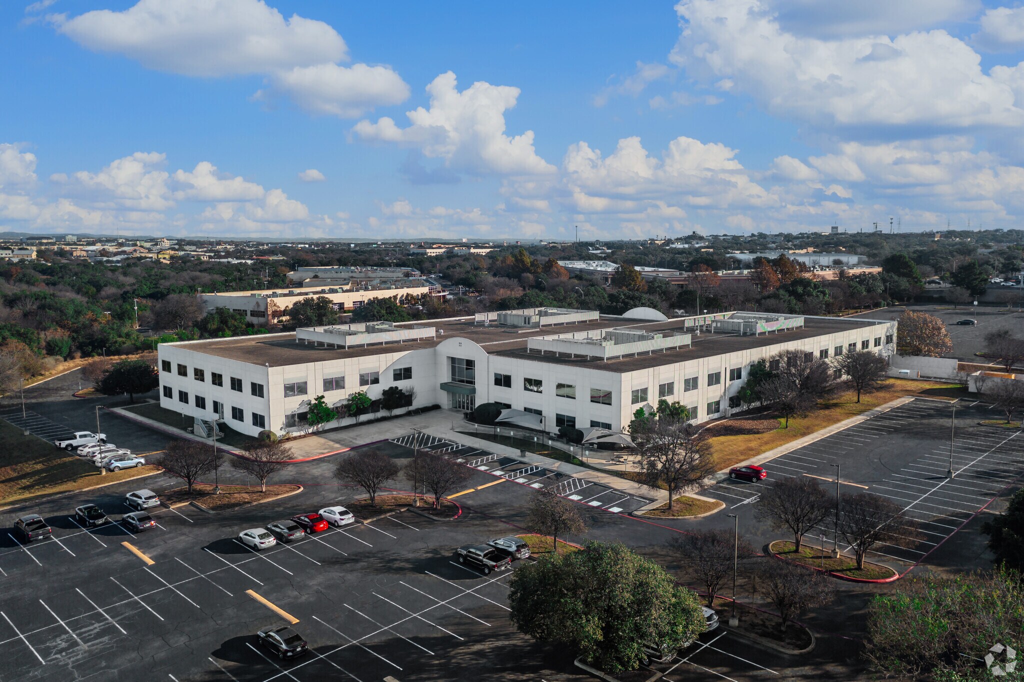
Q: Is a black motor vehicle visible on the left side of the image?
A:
Yes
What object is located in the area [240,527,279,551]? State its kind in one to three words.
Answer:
car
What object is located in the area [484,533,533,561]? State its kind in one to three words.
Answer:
car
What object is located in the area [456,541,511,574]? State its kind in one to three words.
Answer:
truck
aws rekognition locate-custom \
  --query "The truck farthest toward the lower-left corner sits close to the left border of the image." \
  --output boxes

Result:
[16,513,53,542]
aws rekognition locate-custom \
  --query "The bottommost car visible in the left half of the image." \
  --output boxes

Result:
[258,622,312,659]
